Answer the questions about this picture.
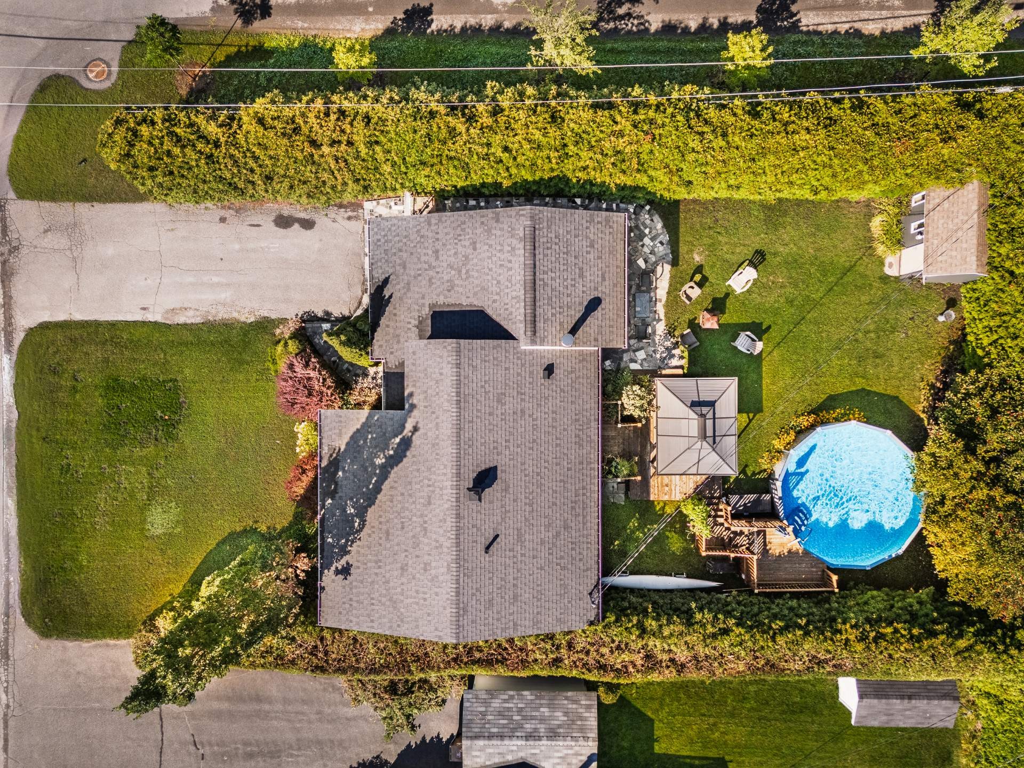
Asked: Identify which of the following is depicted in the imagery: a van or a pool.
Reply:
pool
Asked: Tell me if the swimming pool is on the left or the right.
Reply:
right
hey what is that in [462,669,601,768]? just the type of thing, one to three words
house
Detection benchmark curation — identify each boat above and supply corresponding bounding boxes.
[605,573,723,590]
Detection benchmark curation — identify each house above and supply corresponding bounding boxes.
[314,206,631,644]
[462,669,601,768]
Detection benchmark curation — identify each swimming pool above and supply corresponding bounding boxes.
[766,420,925,568]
